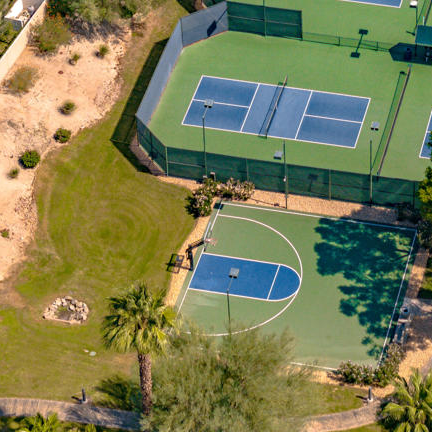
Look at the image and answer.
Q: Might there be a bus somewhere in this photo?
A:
No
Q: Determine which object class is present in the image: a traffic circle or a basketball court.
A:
basketball court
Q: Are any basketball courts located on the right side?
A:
Yes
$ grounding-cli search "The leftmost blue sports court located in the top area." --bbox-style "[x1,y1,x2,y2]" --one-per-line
[183,76,371,148]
